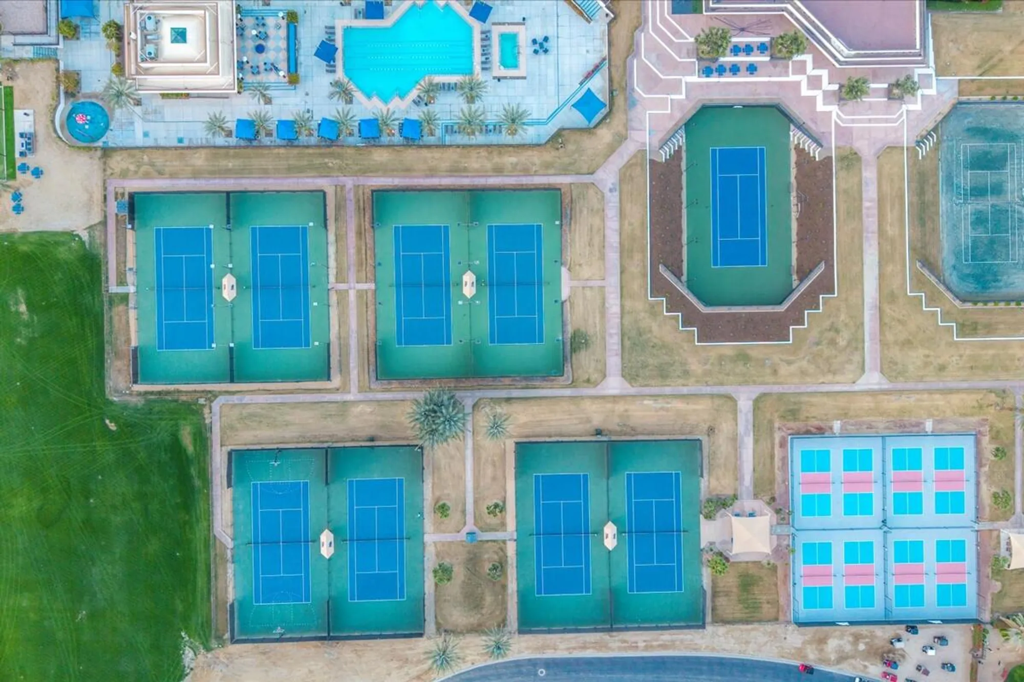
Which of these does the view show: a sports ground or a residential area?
sports ground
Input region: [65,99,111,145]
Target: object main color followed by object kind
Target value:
blue swimming pool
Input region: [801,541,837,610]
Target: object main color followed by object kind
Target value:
blue sports court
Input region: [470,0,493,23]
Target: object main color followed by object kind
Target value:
blue umbrella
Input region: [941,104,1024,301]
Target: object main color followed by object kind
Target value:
blue tennis court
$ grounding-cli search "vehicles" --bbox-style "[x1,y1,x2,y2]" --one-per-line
[881,669,898,682]
[915,663,932,678]
[891,637,908,652]
[798,662,814,676]
[940,660,958,674]
[885,658,902,673]
[932,635,950,649]
[853,677,867,682]
[904,625,921,638]
[923,643,940,658]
